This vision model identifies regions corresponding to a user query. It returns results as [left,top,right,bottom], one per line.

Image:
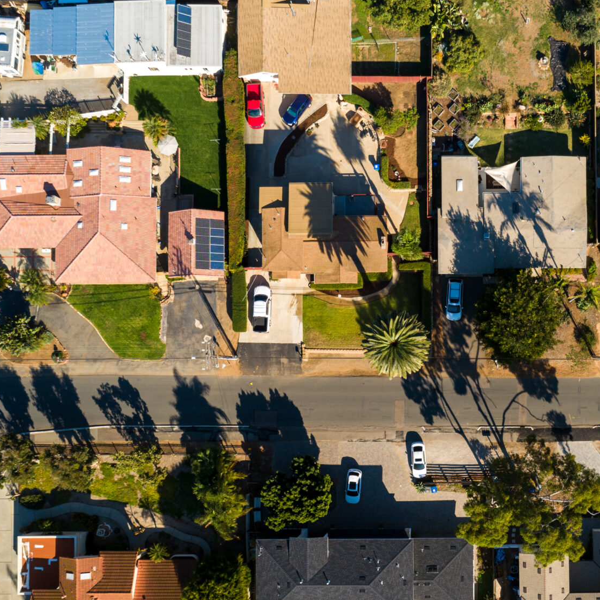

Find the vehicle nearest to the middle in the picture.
[251,286,271,332]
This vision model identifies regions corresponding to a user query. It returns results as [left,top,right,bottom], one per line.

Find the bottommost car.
[344,467,363,504]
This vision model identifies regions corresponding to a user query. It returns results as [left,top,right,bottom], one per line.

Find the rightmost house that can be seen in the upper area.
[437,156,587,276]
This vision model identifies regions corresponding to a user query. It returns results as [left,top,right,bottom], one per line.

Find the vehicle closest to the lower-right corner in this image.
[409,440,427,478]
